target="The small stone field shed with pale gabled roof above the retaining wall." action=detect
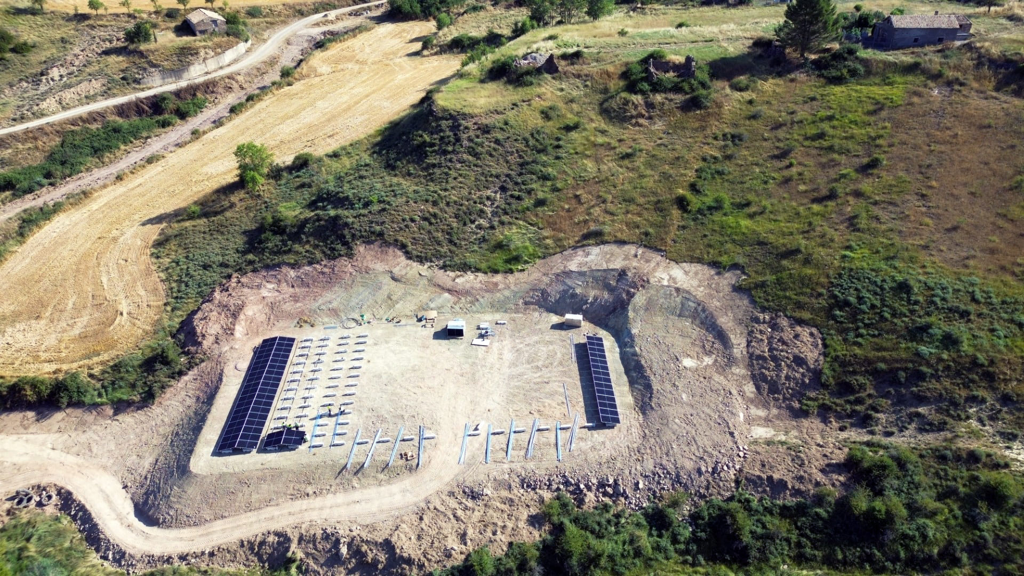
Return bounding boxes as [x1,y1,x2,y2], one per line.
[186,8,230,40]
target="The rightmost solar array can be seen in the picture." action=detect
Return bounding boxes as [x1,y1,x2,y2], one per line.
[586,334,621,427]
